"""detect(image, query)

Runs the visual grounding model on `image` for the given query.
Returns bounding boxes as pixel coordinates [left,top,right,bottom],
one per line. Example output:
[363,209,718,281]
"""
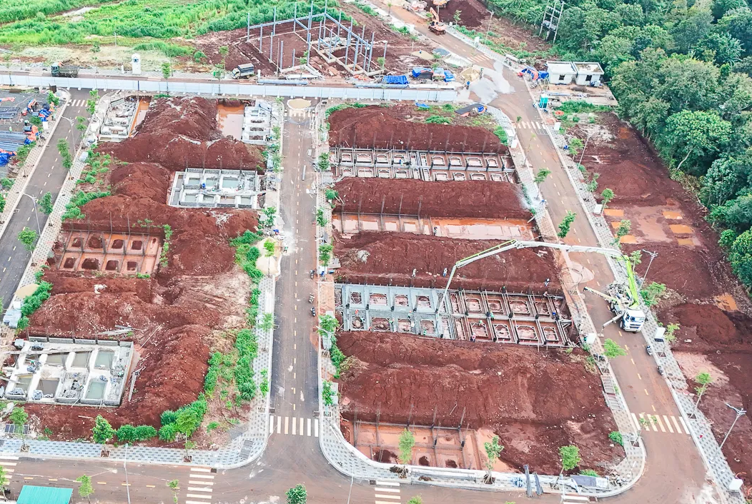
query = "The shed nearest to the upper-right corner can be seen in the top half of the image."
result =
[572,60,601,86]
